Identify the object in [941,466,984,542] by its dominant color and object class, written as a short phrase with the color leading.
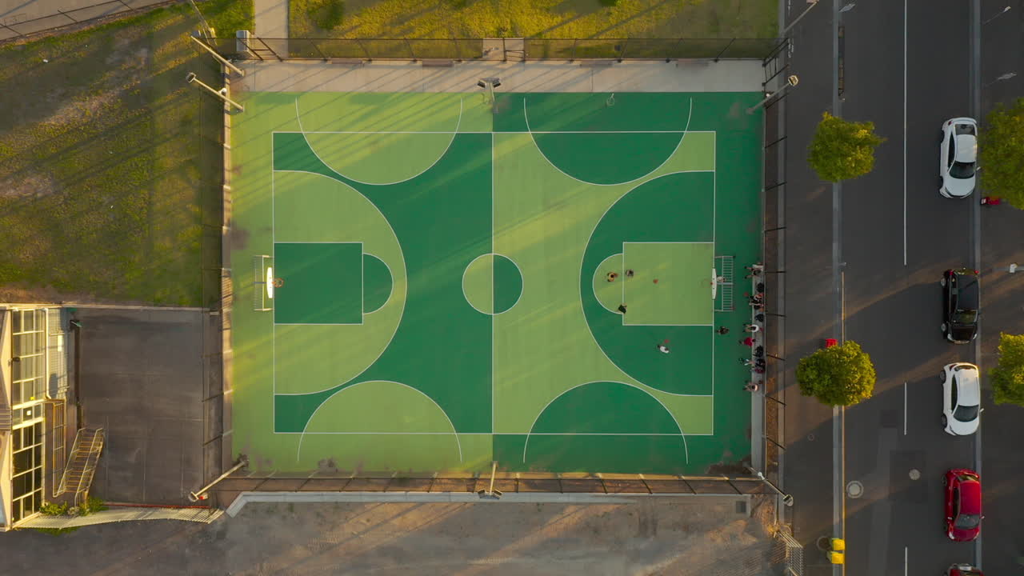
red car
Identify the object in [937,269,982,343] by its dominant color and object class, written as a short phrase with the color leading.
black car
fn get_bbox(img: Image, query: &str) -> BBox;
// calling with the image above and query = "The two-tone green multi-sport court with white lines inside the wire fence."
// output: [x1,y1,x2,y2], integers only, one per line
[233,92,762,472]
